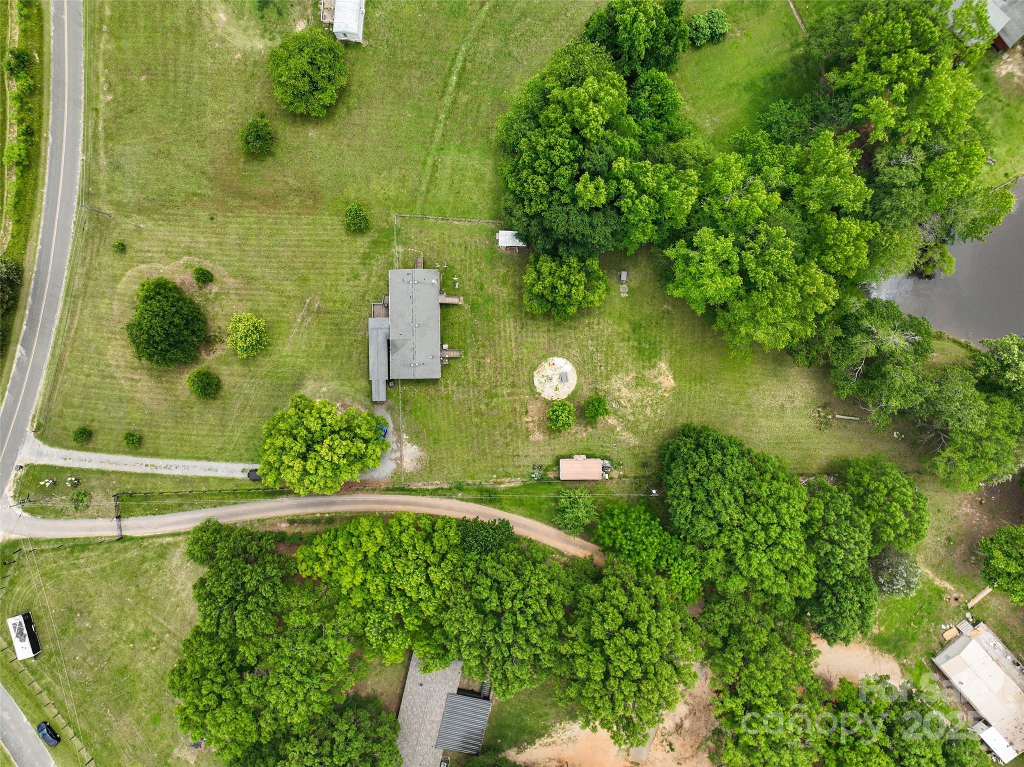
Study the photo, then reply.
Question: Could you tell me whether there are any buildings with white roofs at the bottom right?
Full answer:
Yes, a building with a white roof shows up at the bottom right.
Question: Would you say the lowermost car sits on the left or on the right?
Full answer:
The lowermost car appears in the left half of the scene.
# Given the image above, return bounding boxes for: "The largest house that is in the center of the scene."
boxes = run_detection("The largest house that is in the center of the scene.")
[369,257,461,379]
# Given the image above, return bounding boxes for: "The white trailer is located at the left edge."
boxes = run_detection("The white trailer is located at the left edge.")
[7,611,42,659]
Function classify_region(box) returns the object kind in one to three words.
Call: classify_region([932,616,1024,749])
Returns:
house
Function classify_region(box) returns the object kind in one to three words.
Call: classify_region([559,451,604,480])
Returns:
shed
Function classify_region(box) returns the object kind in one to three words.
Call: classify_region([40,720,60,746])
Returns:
car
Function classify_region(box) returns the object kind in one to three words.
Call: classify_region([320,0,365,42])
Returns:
house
